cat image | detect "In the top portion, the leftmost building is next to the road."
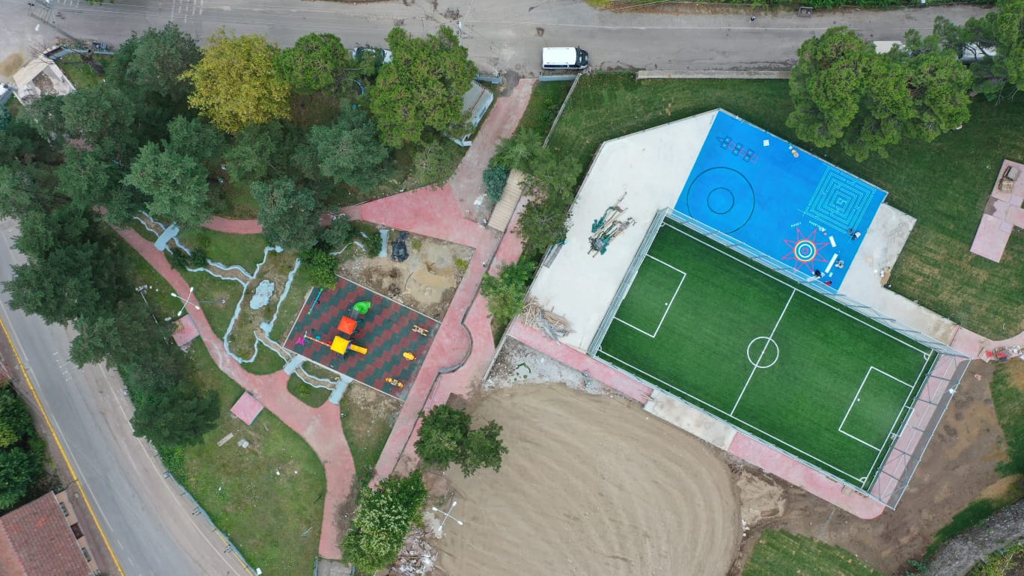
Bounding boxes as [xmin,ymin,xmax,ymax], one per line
[11,55,73,109]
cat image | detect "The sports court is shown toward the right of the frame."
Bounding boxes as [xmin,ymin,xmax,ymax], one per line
[673,111,886,297]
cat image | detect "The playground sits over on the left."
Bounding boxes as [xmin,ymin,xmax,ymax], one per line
[285,278,440,401]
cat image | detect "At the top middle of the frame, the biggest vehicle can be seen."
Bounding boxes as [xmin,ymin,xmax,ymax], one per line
[543,47,588,69]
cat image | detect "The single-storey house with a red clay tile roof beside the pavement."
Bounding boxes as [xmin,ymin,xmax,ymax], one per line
[0,486,112,576]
